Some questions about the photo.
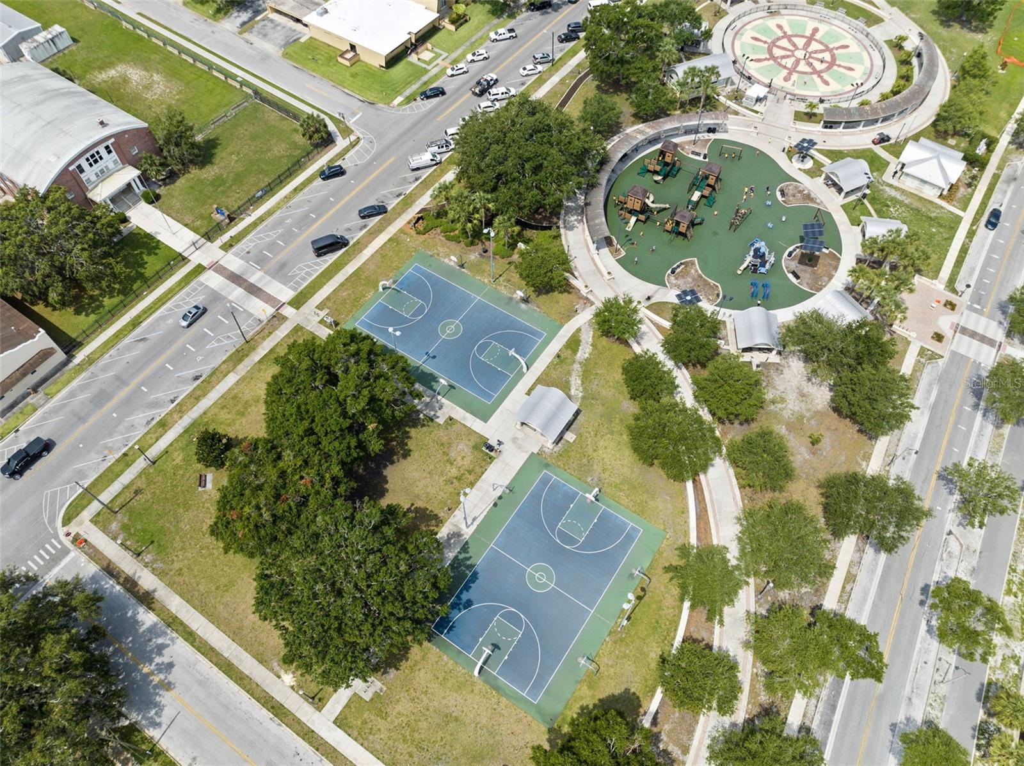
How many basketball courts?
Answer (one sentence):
The count of basketball courts comes to 2.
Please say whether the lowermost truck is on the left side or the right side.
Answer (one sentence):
The lowermost truck is on the left side of the image.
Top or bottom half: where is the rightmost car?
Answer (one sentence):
Seen from above, the rightmost car lies in the top half of the view.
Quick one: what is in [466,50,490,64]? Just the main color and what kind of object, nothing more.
white car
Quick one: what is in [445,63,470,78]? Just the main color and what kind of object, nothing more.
white car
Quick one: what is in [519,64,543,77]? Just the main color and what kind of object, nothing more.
white vehicle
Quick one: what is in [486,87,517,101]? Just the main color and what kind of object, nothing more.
white vehicle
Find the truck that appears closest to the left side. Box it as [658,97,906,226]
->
[3,438,50,477]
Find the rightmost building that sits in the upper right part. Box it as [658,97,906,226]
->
[890,140,967,205]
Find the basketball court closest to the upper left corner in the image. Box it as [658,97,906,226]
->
[341,249,564,423]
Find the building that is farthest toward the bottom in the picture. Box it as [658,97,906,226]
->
[513,385,579,452]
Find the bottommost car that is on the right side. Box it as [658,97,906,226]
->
[982,208,1002,230]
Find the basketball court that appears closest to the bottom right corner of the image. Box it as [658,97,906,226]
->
[406,453,667,728]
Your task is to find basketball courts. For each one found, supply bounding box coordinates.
[341,249,564,423]
[406,453,667,728]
